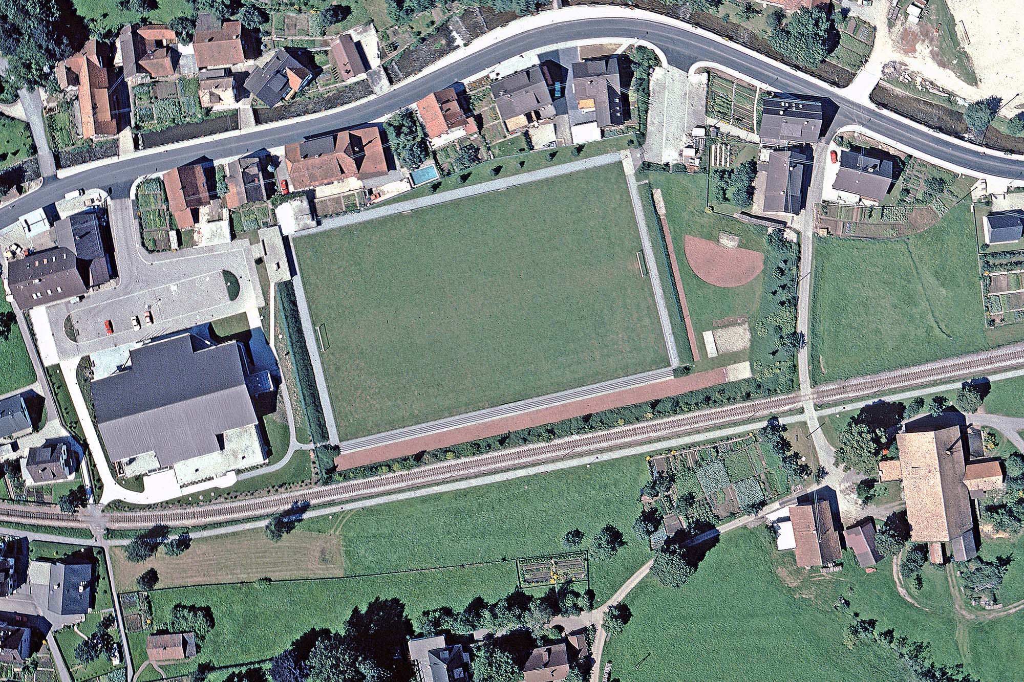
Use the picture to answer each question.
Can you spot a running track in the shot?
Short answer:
Yes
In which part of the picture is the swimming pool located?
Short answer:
top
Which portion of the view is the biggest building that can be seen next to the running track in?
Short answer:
left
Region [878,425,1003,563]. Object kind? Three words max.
barn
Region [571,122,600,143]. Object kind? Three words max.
building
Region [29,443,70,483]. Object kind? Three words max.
house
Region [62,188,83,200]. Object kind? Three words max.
vehicle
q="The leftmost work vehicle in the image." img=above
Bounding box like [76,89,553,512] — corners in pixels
[7,240,24,254]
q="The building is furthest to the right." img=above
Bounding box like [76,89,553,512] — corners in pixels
[984,212,1023,243]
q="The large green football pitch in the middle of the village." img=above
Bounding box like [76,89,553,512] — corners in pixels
[285,154,678,445]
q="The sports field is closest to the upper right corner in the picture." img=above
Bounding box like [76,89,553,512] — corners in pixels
[684,233,764,286]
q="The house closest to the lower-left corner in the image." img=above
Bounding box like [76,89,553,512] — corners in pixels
[0,625,29,664]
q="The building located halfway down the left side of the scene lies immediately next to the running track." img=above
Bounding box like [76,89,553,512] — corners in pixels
[90,334,274,484]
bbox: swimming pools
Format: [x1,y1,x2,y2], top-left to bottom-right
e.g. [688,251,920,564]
[410,164,439,185]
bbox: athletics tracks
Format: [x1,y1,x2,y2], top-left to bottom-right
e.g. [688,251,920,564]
[335,369,727,471]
